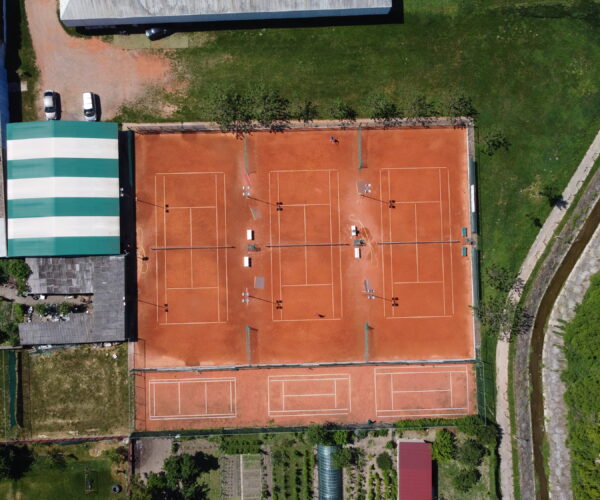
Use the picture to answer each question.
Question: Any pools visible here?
No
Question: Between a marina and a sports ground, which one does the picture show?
sports ground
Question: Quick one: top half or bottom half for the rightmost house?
bottom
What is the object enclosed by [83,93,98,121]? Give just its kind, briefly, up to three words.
car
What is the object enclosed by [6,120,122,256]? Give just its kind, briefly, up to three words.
building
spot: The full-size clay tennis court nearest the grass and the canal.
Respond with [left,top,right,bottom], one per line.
[359,127,475,362]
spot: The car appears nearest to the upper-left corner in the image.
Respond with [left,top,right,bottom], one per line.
[42,91,56,120]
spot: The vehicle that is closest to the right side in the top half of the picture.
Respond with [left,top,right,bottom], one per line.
[145,25,171,42]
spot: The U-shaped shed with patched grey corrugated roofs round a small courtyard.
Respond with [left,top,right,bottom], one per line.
[19,254,128,346]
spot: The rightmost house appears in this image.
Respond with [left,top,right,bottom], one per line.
[396,437,434,500]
